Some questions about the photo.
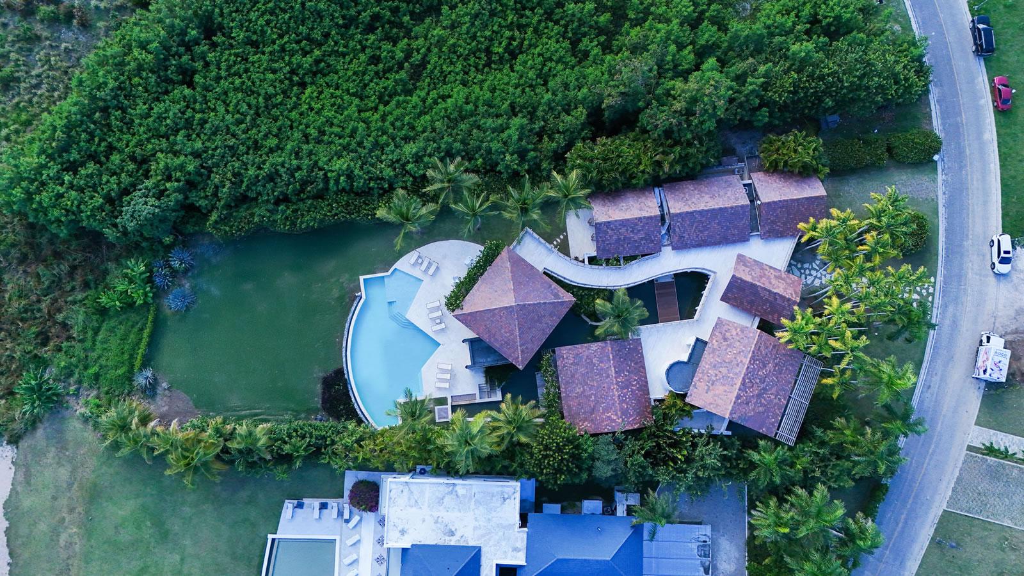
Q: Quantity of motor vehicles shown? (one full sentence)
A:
The count of motor vehicles comes to 4.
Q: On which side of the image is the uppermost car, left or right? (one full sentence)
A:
It is on the right.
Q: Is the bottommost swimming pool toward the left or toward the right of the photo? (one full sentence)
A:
It is on the left.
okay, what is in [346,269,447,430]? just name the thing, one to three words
swimming pool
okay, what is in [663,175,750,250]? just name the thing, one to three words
house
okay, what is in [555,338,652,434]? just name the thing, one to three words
house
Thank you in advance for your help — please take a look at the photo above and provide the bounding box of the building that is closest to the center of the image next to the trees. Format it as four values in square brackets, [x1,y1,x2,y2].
[452,246,576,370]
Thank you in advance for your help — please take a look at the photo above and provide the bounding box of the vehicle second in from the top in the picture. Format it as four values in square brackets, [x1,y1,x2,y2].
[992,75,1016,111]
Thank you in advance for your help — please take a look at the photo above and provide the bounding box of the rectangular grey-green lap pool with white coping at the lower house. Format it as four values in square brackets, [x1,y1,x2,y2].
[263,533,340,576]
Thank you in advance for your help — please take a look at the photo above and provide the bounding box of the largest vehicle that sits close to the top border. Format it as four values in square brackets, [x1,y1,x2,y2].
[971,14,998,56]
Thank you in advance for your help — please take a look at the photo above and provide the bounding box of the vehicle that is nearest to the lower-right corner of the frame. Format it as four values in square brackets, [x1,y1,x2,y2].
[968,331,1011,388]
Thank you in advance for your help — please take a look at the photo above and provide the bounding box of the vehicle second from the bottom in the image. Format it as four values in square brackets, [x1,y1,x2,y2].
[989,233,1014,273]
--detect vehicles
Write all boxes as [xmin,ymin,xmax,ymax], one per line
[992,75,1016,111]
[968,331,1011,388]
[989,233,1014,273]
[971,14,998,56]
